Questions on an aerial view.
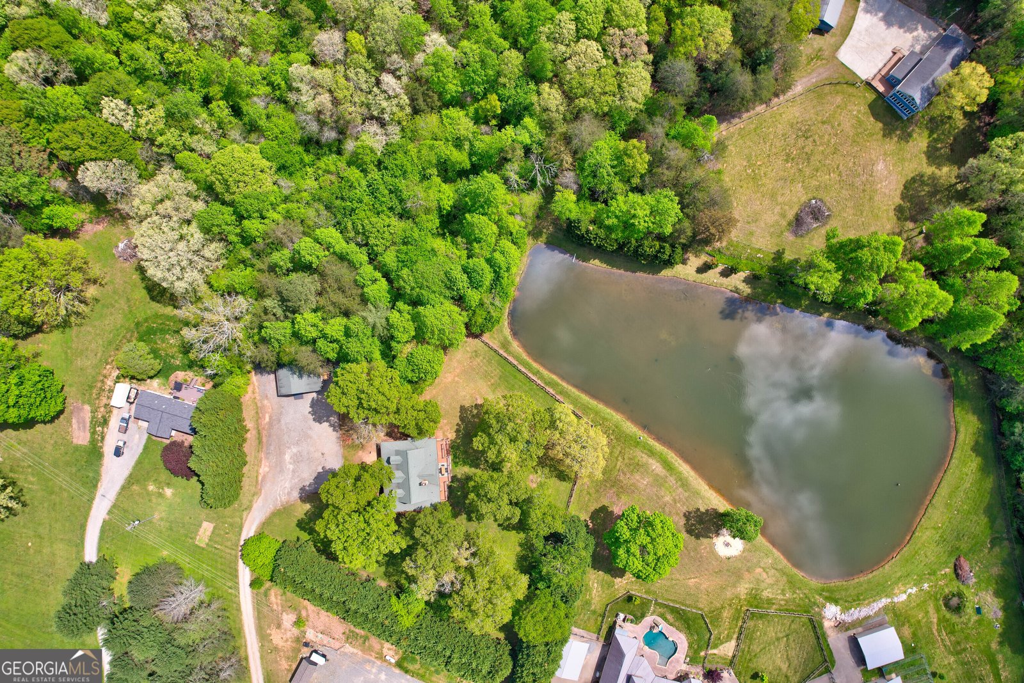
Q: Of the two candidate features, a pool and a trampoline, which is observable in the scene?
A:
pool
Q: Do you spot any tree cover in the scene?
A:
Yes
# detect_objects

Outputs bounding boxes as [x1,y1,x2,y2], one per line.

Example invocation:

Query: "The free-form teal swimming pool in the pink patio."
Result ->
[642,630,679,668]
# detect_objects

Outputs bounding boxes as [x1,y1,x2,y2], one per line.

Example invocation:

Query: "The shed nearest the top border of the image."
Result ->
[808,0,843,31]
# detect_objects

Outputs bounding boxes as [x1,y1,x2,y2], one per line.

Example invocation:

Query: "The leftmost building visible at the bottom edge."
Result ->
[290,655,318,683]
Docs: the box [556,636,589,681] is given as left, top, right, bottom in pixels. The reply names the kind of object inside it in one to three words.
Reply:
building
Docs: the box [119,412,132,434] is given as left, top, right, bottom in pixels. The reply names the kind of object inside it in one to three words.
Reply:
vehicle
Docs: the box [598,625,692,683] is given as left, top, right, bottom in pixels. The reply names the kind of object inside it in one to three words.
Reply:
building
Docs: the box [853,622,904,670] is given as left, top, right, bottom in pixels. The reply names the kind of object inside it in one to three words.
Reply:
barn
